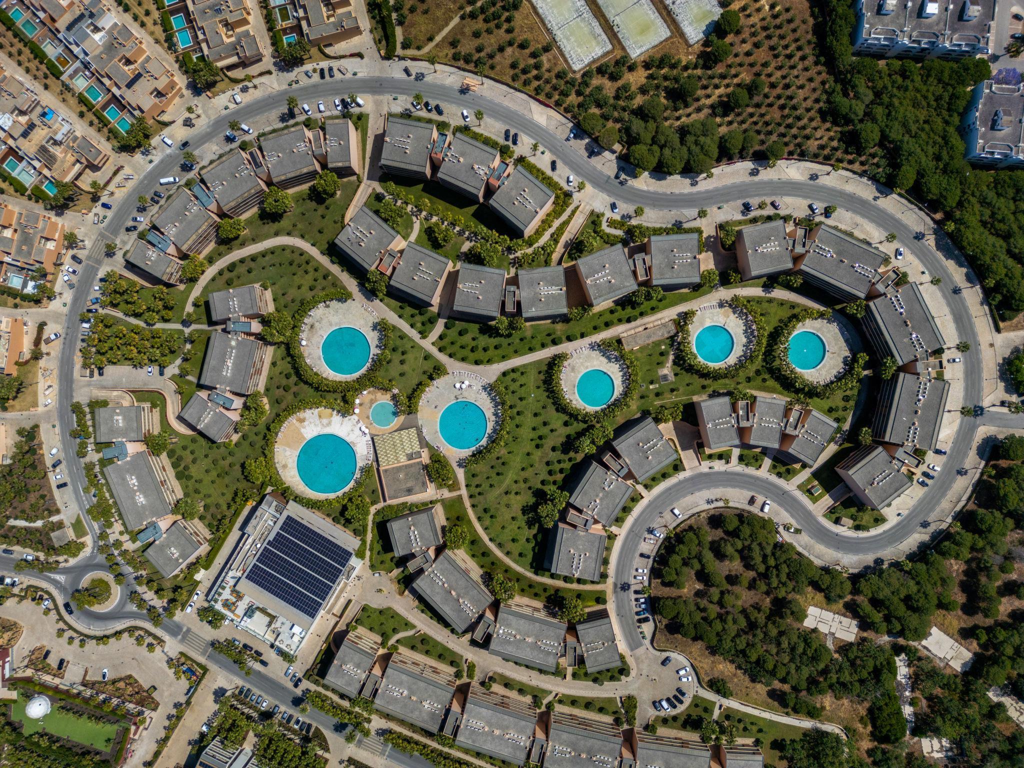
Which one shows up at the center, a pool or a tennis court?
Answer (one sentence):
Looking at the center, you will find a pool.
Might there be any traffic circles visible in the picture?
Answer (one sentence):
Yes, there is a traffic circle in the image.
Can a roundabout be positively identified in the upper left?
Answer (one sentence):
No, there's no roundabout to be seen in the upper left.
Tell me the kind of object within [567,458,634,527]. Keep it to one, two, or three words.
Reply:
building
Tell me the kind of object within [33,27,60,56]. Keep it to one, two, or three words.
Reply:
swimming pool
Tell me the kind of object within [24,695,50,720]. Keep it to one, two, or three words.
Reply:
tent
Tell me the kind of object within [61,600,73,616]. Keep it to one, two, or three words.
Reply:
vehicle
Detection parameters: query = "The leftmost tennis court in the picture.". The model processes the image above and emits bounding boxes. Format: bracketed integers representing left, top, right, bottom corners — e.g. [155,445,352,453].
[530,0,613,72]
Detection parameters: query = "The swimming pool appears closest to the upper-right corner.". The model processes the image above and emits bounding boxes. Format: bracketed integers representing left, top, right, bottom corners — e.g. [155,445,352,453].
[786,318,852,382]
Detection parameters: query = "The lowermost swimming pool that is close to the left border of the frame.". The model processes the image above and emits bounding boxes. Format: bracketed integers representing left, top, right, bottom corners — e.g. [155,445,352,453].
[0,262,26,291]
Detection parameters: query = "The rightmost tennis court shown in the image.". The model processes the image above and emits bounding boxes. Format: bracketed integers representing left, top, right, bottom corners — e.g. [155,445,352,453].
[663,0,724,46]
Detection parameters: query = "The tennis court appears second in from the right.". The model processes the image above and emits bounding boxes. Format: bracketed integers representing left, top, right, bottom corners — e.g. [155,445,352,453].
[597,0,672,59]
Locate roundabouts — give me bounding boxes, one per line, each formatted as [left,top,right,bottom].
[62,546,149,630]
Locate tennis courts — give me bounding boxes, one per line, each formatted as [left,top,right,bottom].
[663,0,724,46]
[597,0,672,59]
[530,0,613,72]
